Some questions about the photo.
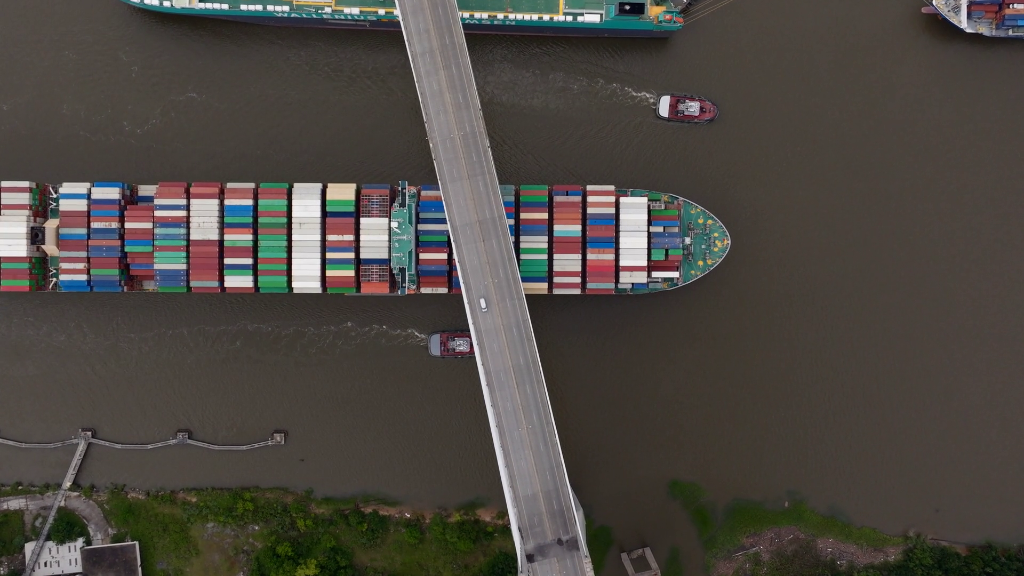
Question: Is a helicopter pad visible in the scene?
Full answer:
No, I can't see a single helicopter pad in this photo.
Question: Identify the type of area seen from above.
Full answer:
The area seen from above is a port.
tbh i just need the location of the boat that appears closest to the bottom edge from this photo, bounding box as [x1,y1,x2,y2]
[428,330,476,360]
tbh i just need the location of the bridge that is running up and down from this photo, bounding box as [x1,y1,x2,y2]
[396,0,593,576]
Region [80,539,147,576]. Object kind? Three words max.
building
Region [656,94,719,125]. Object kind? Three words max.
boat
